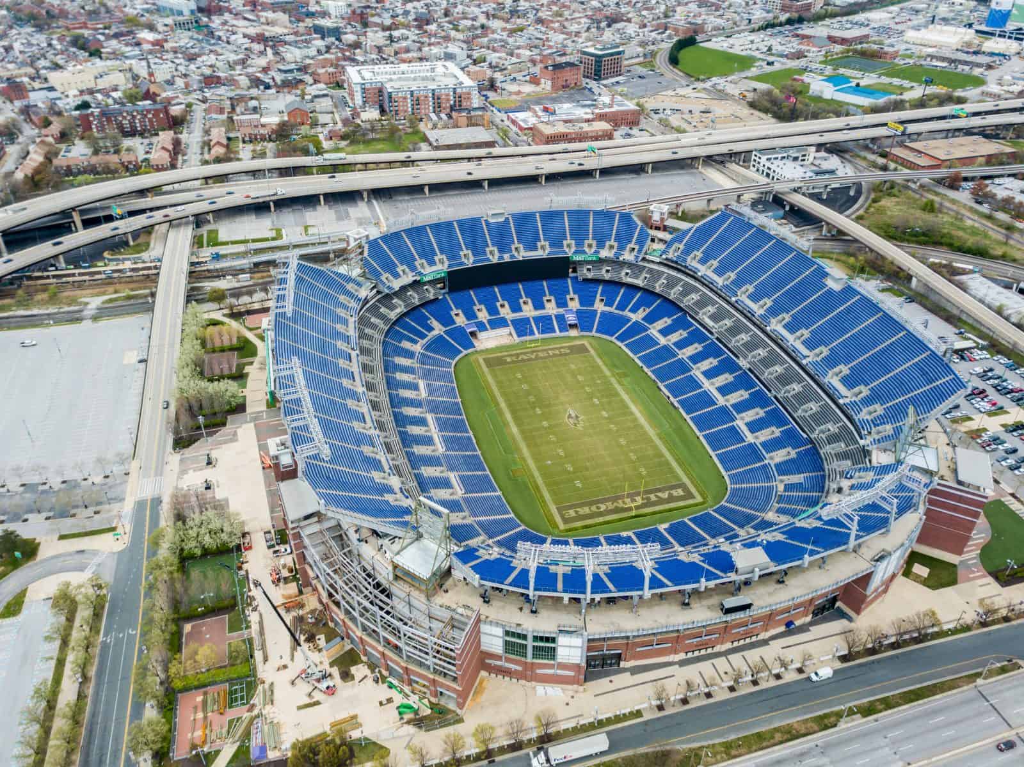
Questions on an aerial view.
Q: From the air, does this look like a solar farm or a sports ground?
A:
sports ground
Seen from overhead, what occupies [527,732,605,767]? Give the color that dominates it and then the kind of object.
white truck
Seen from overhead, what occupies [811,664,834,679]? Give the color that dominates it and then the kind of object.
white vehicle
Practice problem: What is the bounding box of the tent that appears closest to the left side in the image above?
[903,28,975,50]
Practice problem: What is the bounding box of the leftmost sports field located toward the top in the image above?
[679,47,761,78]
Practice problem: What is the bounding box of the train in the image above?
[937,255,998,273]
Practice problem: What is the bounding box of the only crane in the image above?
[252,579,340,701]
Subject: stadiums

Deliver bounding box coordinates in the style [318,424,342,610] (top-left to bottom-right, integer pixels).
[258,199,998,714]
